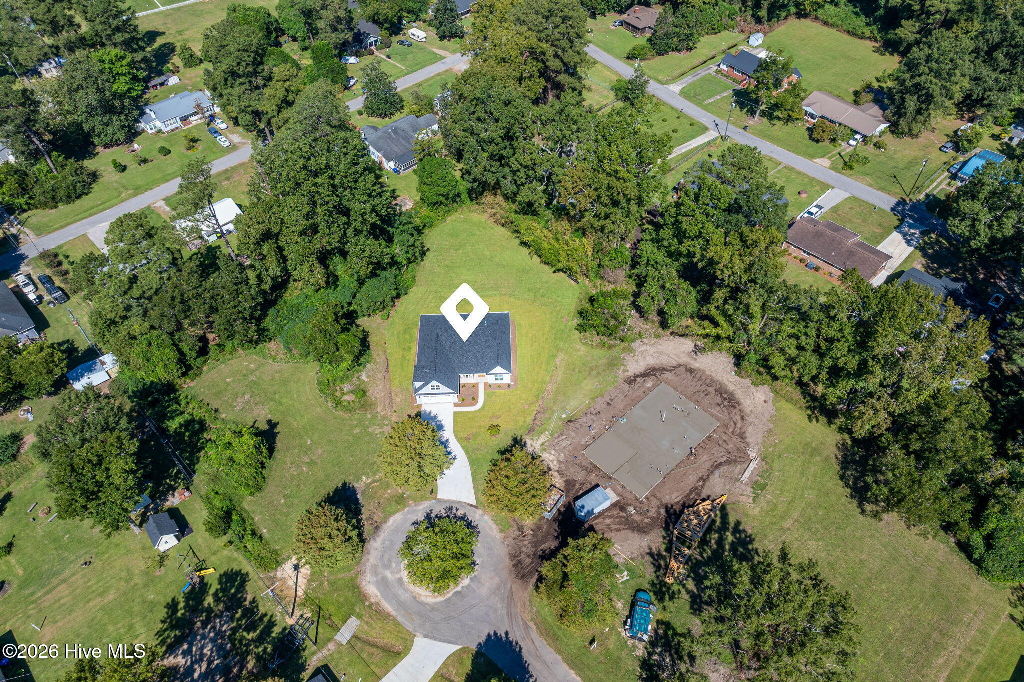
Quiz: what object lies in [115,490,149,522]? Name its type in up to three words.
shed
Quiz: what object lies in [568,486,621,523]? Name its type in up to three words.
trailer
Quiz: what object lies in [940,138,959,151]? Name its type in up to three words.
vehicle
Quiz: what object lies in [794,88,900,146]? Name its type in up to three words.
house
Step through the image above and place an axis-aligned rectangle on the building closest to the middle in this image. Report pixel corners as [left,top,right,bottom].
[409,312,513,404]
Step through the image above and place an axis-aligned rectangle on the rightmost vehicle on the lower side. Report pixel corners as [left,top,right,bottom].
[627,591,656,646]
